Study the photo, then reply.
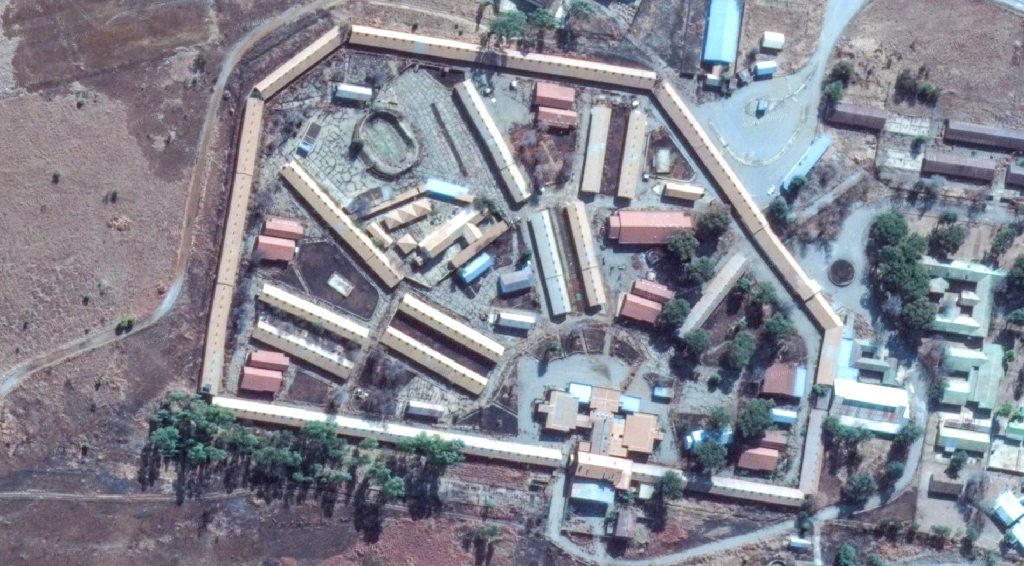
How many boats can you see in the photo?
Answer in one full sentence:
The photo contains no boats.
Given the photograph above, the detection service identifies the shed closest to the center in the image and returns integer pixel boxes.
[500,268,533,294]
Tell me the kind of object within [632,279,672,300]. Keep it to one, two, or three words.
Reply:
house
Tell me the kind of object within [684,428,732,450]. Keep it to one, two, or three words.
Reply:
shed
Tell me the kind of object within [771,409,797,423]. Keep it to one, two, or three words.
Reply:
shed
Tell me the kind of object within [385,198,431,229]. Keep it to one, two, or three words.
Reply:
building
